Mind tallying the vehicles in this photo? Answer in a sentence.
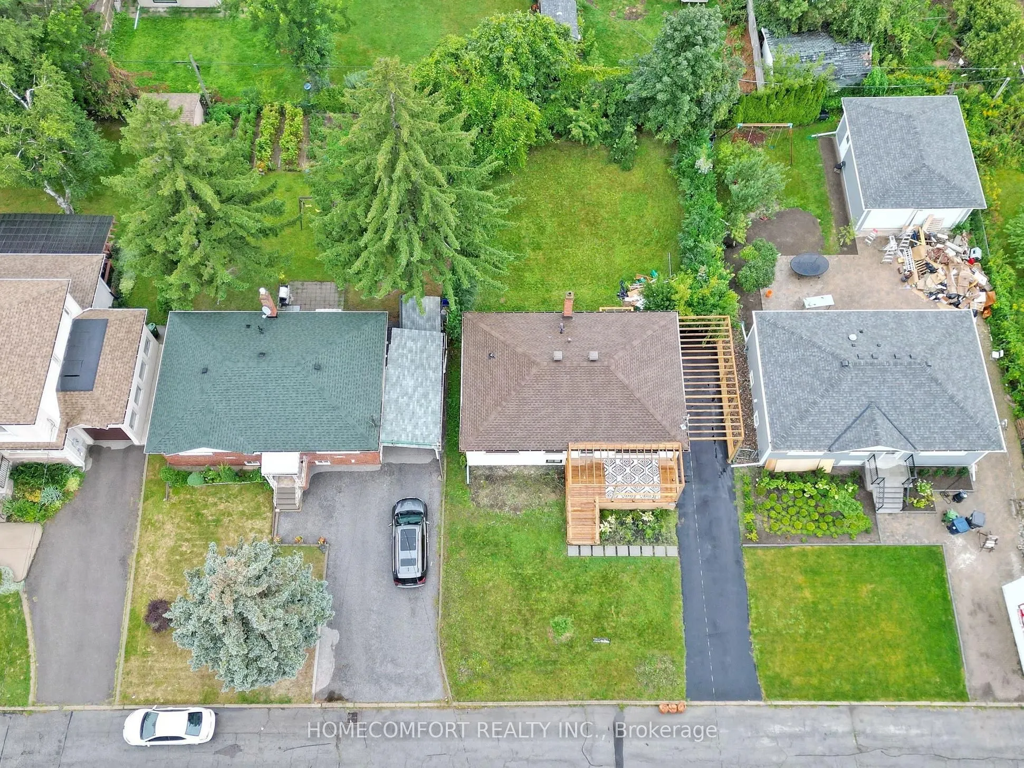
The number of vehicles here is 2.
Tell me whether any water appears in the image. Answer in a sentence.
No, the scene doesn't show any water.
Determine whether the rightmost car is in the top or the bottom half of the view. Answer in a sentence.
You can find the rightmost car in the bottom half.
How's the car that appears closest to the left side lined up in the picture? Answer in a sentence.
I'd say the car that appears closest to the left side is aligned from side to side in the picture.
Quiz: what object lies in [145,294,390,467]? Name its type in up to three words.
house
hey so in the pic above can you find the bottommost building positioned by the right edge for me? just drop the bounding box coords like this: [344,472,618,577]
[734,310,1012,482]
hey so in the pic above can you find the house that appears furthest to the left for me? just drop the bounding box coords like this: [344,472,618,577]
[0,252,159,472]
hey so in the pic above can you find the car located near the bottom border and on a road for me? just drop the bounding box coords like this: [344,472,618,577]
[122,704,218,753]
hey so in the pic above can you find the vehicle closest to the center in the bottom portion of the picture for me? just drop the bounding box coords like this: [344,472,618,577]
[389,498,433,587]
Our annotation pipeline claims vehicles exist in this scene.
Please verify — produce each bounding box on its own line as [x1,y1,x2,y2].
[389,498,433,587]
[122,704,218,753]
